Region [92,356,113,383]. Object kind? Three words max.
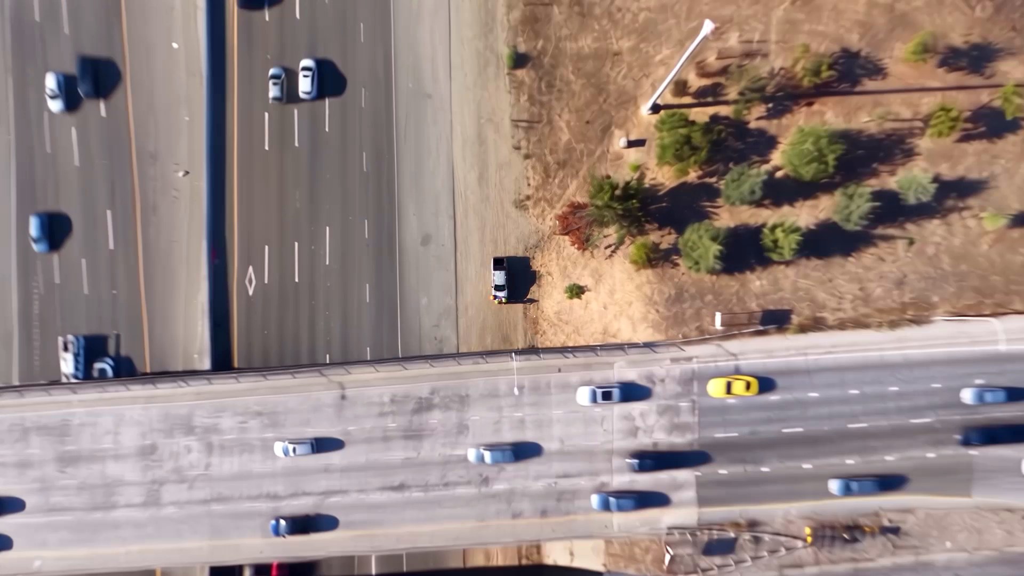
car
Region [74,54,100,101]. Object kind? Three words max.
car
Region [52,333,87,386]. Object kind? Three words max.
truck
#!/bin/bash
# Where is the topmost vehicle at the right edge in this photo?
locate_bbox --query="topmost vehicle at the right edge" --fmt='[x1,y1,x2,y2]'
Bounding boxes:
[959,385,1010,408]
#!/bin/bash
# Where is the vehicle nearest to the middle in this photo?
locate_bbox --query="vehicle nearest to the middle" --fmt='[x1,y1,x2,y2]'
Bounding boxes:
[490,253,511,302]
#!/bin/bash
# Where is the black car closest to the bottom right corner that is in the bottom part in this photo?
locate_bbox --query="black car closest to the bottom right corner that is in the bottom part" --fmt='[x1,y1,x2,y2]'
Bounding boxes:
[961,424,1015,449]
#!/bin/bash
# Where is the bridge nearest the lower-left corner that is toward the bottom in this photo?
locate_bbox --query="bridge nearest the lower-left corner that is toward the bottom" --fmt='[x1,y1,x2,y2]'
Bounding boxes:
[0,339,697,574]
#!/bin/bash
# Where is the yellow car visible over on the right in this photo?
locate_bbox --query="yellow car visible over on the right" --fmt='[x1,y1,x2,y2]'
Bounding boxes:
[707,374,758,399]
